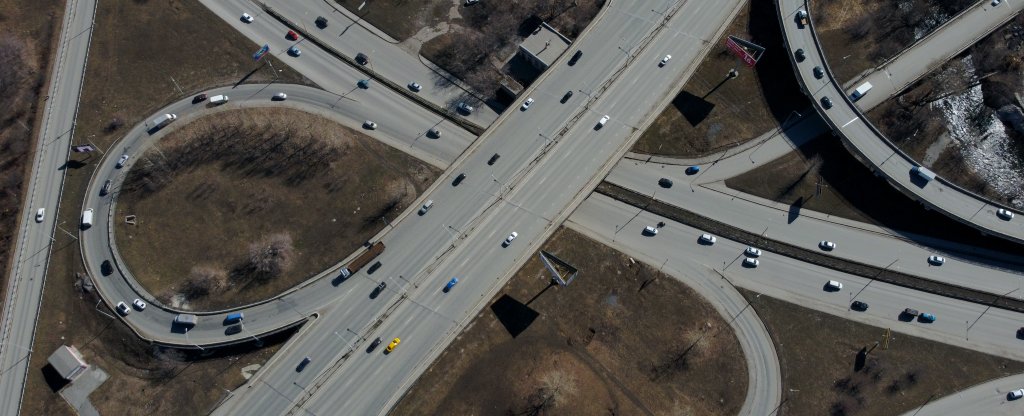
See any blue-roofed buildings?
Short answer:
No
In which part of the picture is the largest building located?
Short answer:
top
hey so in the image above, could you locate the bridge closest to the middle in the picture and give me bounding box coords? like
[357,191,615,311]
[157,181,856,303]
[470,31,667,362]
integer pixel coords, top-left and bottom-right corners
[208,0,754,416]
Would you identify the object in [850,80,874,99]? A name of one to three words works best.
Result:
vehicle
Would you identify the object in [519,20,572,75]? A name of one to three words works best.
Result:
building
